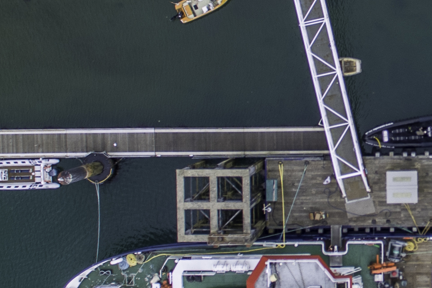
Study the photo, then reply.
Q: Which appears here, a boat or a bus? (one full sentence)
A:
I can see a boat in this picture.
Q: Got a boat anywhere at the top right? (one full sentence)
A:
Yes, looking at the top right, one can make out a boat.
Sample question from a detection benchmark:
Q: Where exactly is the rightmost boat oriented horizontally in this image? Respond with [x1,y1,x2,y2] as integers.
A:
[363,115,432,149]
